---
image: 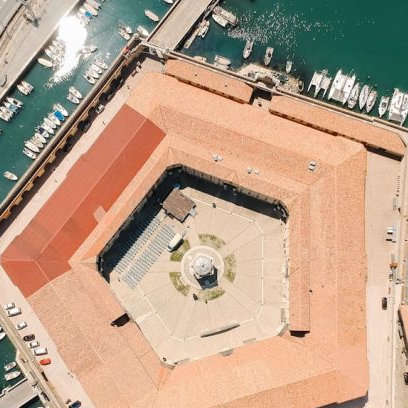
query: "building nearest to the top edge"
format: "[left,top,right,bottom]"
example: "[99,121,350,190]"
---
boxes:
[165,58,254,106]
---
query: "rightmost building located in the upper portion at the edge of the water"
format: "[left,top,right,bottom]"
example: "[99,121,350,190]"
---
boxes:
[270,94,406,159]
